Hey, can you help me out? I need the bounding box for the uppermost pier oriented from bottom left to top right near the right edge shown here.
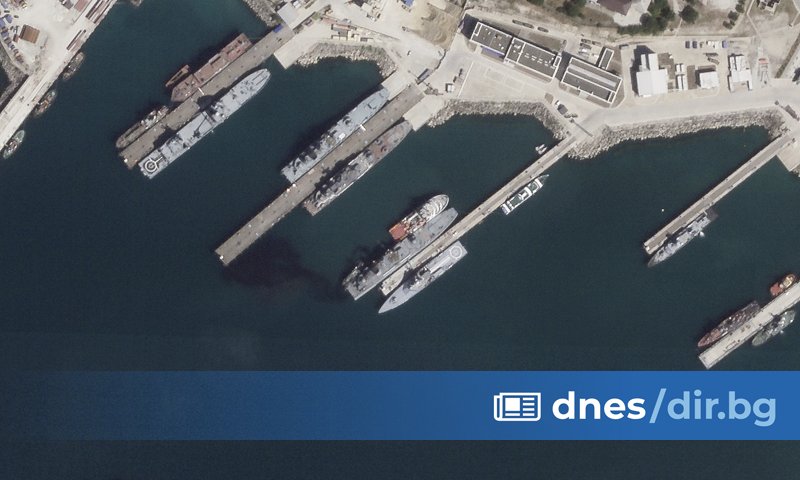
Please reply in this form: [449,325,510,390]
[645,131,796,254]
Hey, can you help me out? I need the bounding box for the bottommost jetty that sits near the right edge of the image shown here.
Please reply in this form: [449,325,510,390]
[699,283,800,369]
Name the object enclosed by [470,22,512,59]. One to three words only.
building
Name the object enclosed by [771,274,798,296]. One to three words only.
boat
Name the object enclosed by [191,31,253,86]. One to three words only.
ship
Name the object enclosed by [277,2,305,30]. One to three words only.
building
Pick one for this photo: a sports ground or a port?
port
